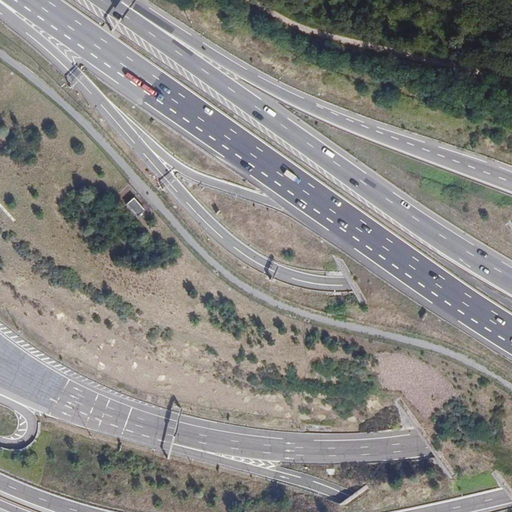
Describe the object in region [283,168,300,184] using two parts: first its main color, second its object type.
white vehicle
